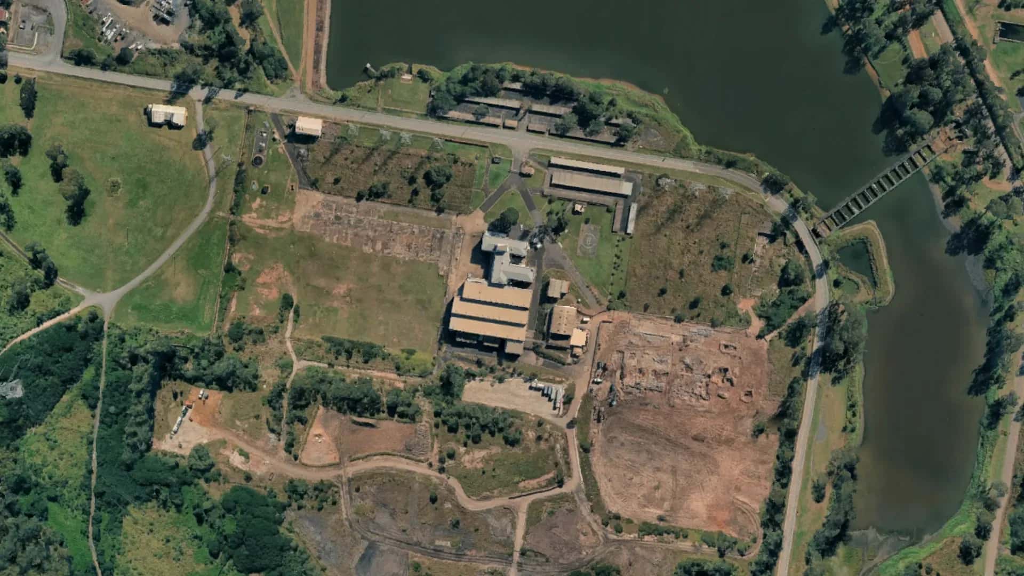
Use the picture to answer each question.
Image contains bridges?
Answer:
Yes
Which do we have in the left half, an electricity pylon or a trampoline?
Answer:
electricity pylon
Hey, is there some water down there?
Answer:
Yes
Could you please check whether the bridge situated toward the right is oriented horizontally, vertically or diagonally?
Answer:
diagonally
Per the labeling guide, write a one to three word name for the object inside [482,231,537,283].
building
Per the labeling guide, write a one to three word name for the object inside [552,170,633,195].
shed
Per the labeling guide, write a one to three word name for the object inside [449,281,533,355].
building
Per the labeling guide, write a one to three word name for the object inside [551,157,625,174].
shed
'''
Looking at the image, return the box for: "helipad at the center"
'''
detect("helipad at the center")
[578,225,600,256]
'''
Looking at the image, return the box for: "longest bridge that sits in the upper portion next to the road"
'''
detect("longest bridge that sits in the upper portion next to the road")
[815,140,942,237]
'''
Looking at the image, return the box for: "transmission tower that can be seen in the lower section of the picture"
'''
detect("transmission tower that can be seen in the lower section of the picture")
[5,381,33,406]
